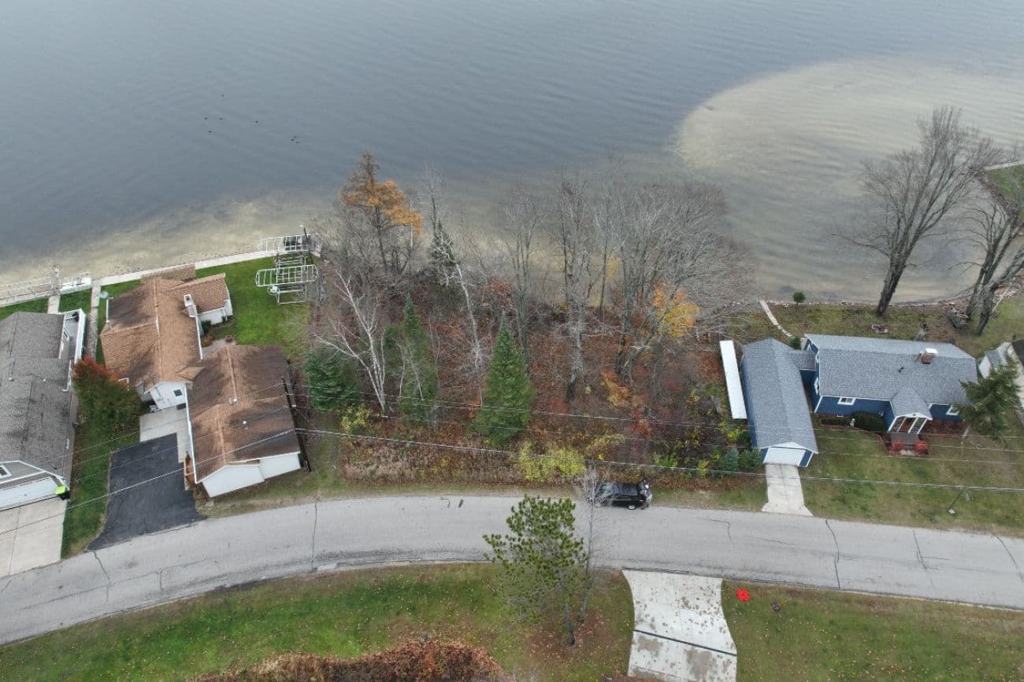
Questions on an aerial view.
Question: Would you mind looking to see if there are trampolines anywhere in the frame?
No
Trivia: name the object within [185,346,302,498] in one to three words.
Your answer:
building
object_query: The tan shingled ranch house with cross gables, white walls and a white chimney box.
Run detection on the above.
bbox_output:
[96,265,233,409]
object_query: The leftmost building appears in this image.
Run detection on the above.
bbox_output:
[0,308,88,512]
